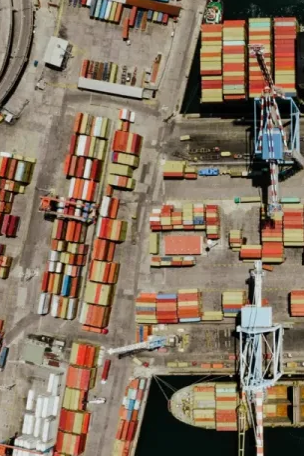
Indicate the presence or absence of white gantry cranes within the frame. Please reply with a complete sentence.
Yes, the image includes a white gantry crane.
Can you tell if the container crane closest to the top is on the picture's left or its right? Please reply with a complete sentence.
You can find the container crane closest to the top on the right side of the picture.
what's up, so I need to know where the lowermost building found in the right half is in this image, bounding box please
[165,236,206,255]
